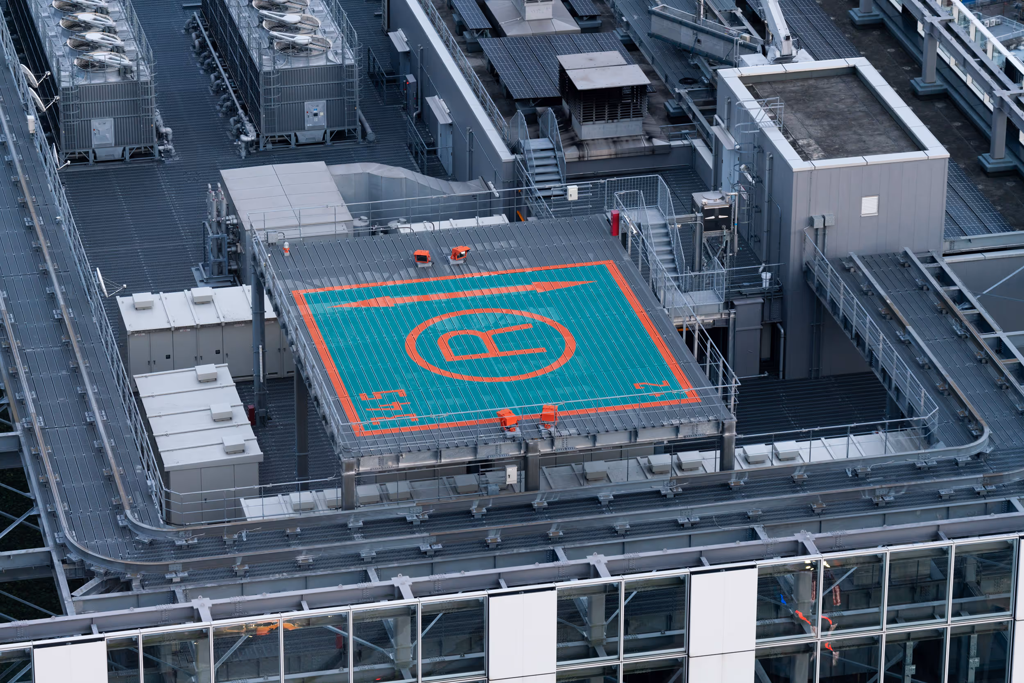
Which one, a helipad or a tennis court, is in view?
helipad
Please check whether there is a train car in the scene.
No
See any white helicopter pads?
No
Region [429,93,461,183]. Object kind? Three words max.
shed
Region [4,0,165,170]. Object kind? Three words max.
cooling tower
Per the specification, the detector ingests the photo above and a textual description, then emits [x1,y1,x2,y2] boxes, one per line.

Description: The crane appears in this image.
[737,0,809,68]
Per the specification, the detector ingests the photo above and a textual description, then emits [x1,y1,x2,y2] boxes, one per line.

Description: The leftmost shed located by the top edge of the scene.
[390,27,418,108]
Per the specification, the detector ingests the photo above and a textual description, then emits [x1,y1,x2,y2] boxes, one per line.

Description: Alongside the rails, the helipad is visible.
[252,212,737,617]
